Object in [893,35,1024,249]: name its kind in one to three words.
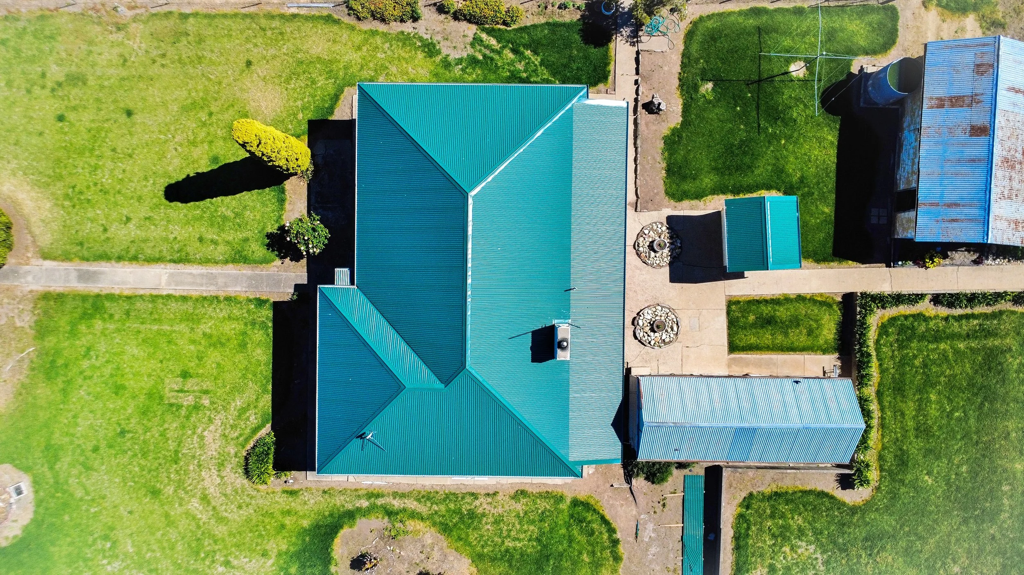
shed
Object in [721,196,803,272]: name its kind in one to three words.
shed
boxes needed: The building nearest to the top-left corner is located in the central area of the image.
[314,81,631,479]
